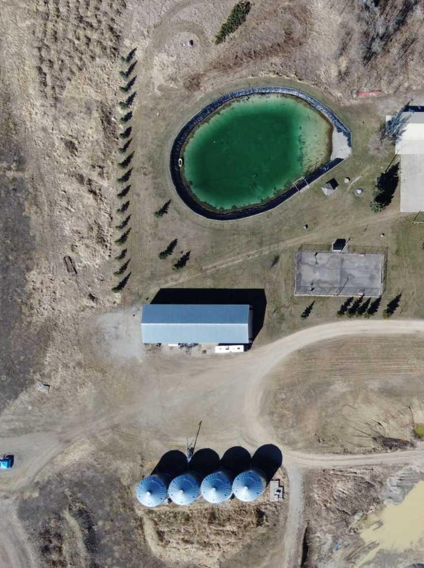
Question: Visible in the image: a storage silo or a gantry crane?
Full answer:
I can see a storage silo in this picture.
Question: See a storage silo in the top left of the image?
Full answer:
No, I see no storage silo in the top left of the image.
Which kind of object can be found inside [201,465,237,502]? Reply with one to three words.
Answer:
silo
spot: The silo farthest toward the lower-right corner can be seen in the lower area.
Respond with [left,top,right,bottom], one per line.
[233,464,270,501]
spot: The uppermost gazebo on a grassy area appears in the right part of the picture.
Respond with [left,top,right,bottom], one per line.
[322,179,338,196]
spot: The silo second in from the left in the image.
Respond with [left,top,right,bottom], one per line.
[168,468,205,505]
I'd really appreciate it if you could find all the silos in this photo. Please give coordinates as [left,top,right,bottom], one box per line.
[233,464,270,501]
[136,470,173,507]
[168,468,205,505]
[201,465,237,502]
